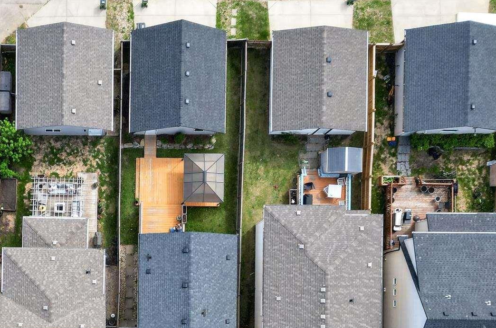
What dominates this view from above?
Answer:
buildings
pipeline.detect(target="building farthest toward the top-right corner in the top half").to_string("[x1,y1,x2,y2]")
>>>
[392,20,496,137]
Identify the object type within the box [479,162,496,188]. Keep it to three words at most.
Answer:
shed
